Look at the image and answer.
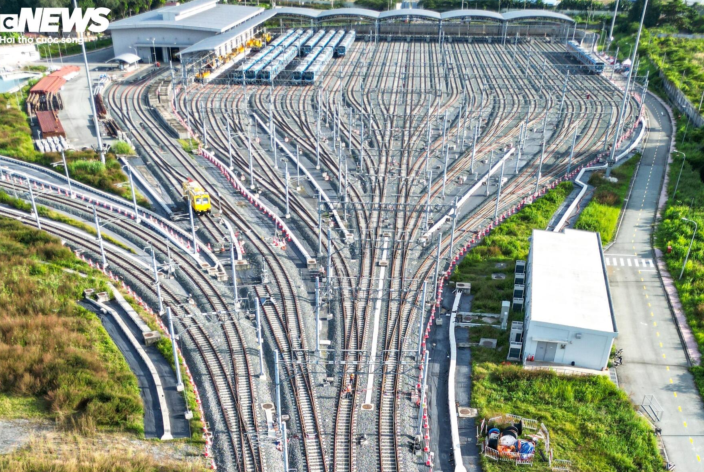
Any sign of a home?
Yes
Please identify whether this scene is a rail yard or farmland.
rail yard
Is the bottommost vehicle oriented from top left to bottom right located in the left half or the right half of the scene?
left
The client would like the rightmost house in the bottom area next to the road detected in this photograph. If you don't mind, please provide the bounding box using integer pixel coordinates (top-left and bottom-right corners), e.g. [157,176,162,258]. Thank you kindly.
[520,231,619,379]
